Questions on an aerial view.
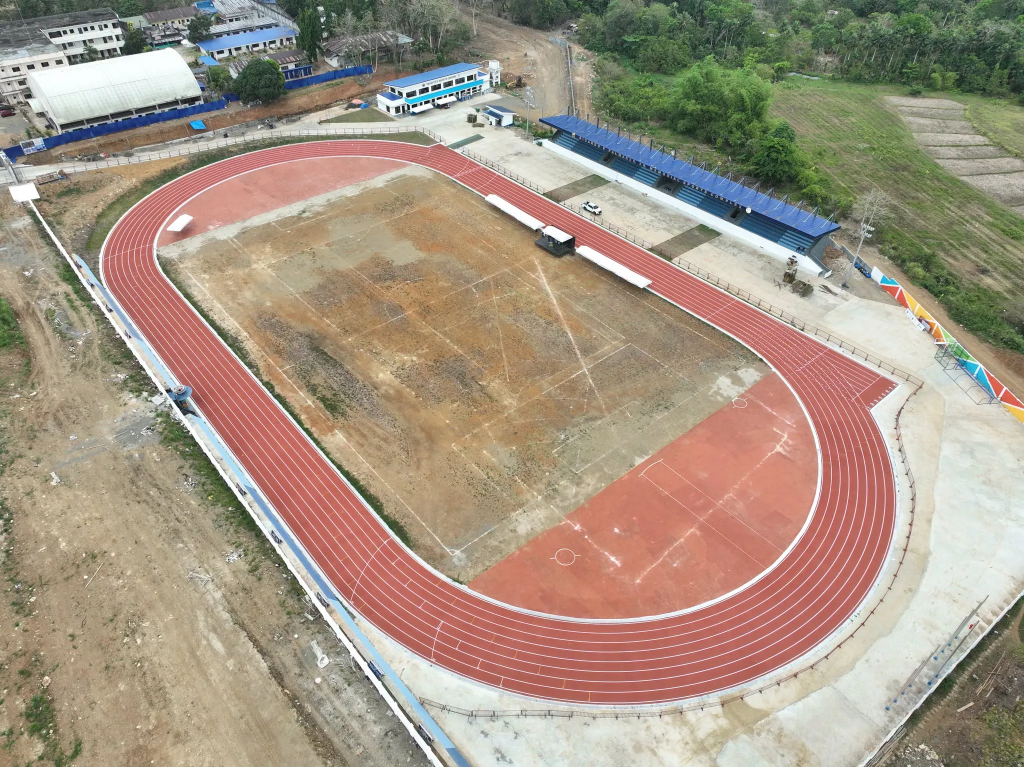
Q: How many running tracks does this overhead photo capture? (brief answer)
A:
1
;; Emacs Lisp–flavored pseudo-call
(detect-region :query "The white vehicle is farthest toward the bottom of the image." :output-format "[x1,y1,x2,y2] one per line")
[582,200,604,214]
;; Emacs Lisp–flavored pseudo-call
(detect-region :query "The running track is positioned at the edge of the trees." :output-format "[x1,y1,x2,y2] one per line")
[101,140,899,705]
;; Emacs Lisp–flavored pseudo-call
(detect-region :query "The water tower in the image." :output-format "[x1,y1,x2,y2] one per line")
[467,57,503,87]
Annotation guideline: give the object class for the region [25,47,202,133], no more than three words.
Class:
building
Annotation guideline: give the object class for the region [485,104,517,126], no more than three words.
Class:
shed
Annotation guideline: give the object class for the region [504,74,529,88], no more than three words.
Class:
work vehicle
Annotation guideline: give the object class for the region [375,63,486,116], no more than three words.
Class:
building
